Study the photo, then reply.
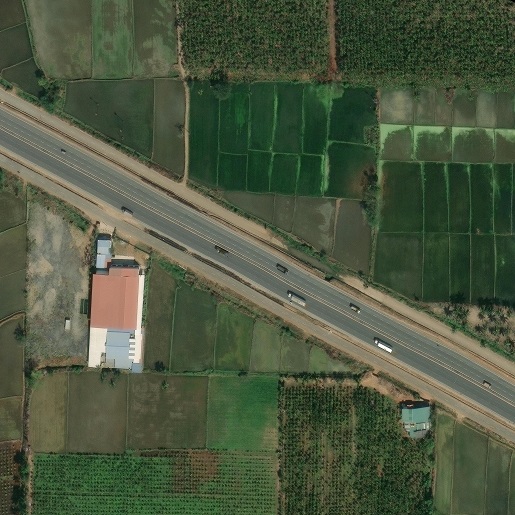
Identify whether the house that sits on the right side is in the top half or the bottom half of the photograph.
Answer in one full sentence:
The bottom half of the photo is where the house that sits on the right side is.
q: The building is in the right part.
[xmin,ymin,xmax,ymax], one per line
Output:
[402,408,431,439]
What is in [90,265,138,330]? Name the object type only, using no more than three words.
building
